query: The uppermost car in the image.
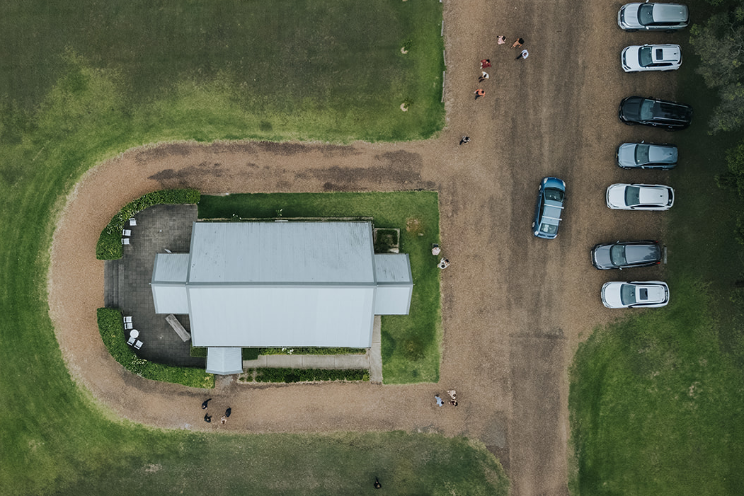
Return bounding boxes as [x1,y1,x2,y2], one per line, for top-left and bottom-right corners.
[616,0,689,36]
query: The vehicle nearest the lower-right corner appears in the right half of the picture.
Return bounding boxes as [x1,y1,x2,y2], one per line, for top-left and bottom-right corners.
[599,277,669,312]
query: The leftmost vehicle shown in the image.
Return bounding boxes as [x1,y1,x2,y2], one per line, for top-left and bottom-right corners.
[531,180,568,239]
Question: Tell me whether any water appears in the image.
No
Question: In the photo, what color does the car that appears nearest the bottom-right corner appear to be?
white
